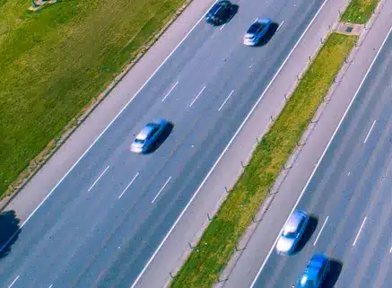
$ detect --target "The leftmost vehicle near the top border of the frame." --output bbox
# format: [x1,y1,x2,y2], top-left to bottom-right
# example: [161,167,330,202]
[205,2,235,26]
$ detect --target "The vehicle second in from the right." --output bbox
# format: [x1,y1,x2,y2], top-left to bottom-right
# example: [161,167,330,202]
[273,207,312,259]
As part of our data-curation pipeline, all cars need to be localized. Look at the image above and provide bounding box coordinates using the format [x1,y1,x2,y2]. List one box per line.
[128,120,169,158]
[243,20,274,48]
[205,2,235,26]
[297,250,333,288]
[273,207,312,259]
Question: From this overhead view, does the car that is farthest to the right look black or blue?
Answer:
blue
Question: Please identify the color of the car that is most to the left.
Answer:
blue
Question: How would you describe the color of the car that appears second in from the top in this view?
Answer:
blue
